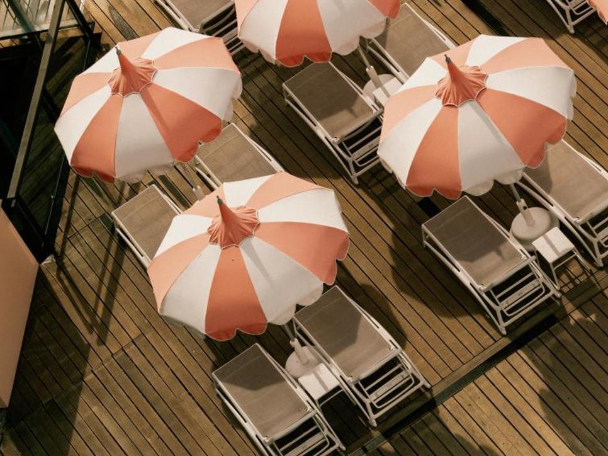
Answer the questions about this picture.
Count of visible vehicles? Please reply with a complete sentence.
I count no vehicles.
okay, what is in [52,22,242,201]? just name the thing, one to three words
umbrella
